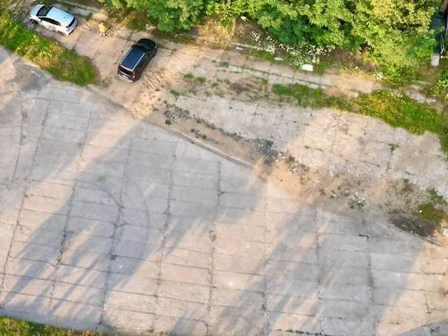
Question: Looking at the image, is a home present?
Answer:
No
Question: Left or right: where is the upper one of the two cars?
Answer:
left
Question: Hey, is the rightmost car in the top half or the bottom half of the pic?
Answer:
top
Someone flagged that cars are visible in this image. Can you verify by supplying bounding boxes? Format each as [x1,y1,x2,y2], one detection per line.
[25,0,81,35]
[114,29,162,81]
